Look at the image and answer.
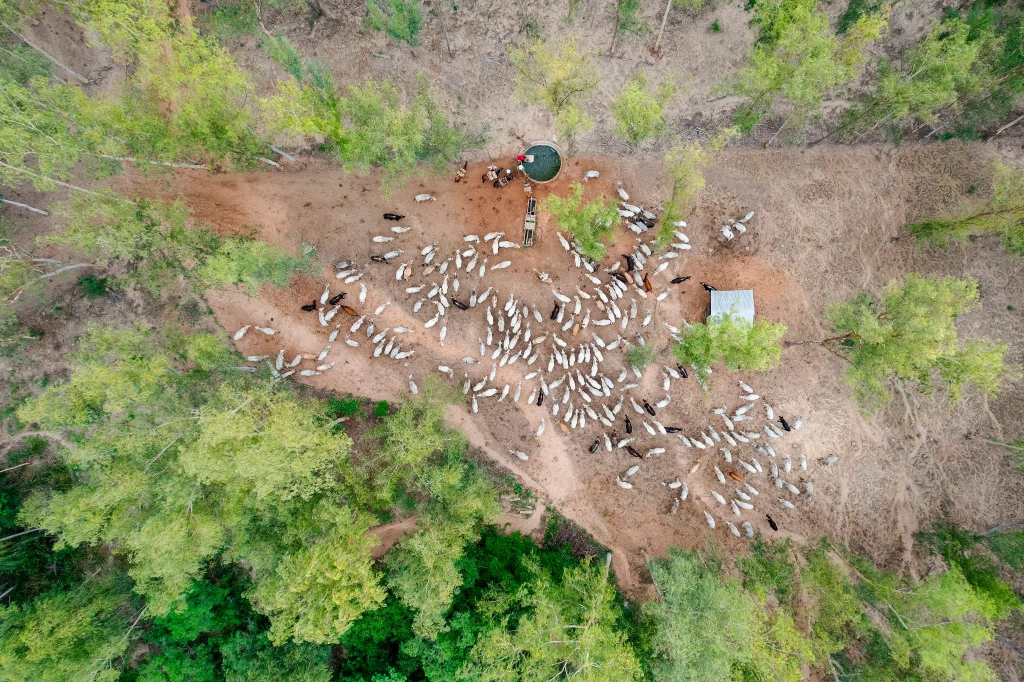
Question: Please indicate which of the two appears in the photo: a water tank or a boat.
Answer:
water tank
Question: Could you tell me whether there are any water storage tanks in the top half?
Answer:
Yes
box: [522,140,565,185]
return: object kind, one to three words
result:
water tank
